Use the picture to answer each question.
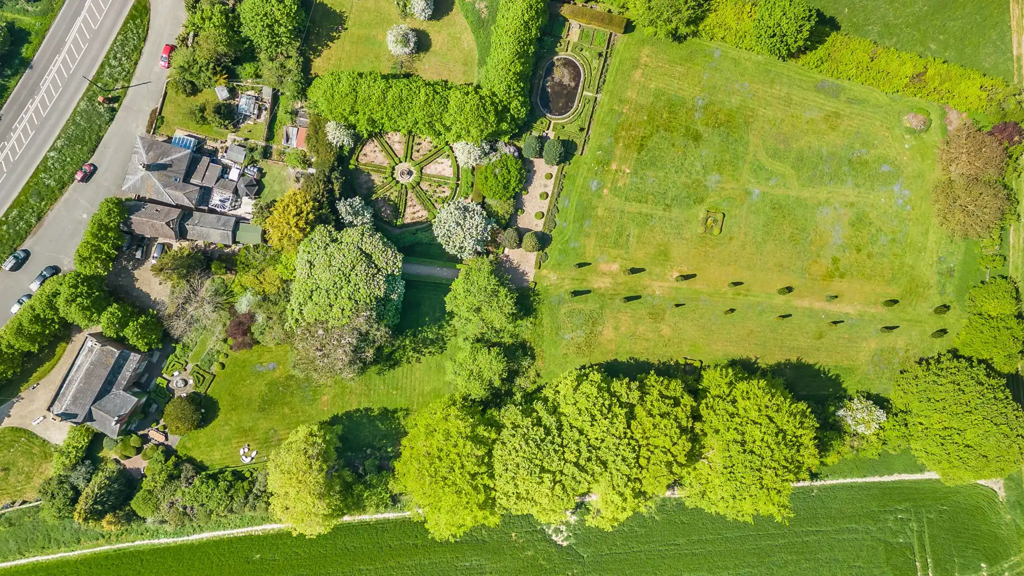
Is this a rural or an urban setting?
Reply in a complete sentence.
This place is rural.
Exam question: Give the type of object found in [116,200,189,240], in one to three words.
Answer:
house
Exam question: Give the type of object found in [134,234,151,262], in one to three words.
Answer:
vehicle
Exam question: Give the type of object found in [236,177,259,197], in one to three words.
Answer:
gazebo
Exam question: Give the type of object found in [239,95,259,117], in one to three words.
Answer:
greenhouse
